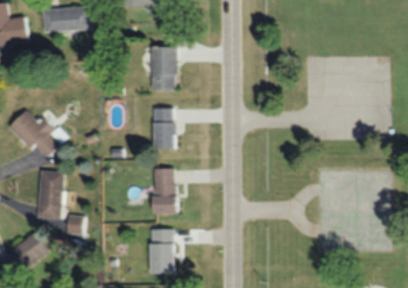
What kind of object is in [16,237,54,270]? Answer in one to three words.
house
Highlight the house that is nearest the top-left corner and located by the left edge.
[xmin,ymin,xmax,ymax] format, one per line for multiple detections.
[0,2,28,46]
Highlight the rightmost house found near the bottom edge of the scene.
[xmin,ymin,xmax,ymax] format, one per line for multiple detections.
[149,229,176,274]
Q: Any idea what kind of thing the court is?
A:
tennis court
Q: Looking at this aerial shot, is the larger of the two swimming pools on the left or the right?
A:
left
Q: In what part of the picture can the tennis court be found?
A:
bottom right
